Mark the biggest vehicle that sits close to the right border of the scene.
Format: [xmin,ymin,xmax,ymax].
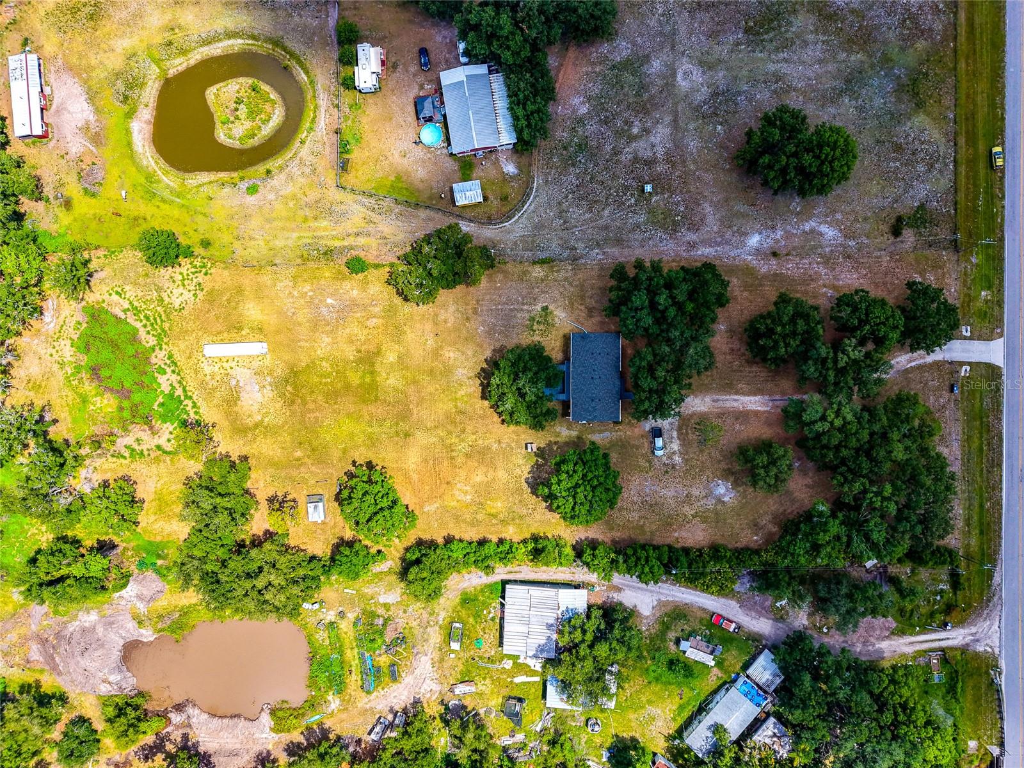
[990,147,1003,169]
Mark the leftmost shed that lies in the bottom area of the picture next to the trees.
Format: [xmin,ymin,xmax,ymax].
[307,493,327,523]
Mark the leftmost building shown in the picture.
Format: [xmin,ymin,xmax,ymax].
[9,52,66,143]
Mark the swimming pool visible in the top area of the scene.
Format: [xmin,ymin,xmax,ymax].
[420,124,442,147]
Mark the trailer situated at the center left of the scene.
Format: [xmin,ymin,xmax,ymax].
[203,342,271,357]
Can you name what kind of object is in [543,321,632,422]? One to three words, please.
house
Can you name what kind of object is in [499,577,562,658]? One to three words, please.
building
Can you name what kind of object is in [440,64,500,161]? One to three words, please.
barn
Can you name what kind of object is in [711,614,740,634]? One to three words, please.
vehicle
